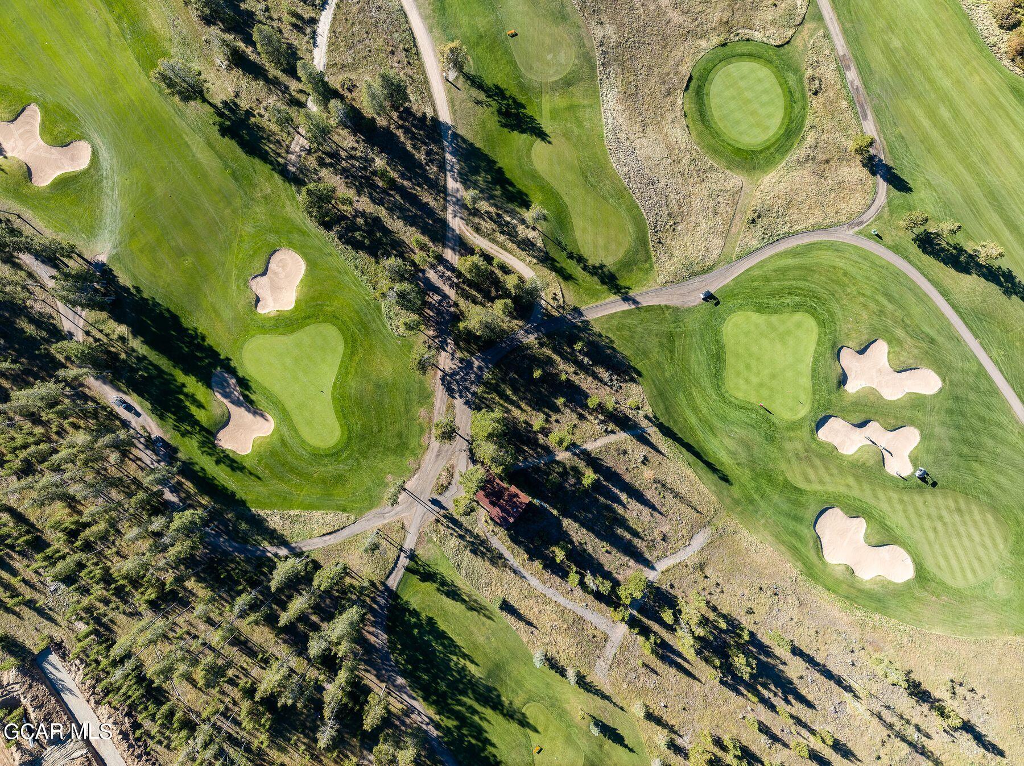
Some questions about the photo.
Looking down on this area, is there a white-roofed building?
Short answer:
No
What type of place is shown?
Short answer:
golf course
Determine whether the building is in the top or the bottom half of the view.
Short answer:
bottom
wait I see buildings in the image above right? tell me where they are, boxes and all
[472,472,531,525]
